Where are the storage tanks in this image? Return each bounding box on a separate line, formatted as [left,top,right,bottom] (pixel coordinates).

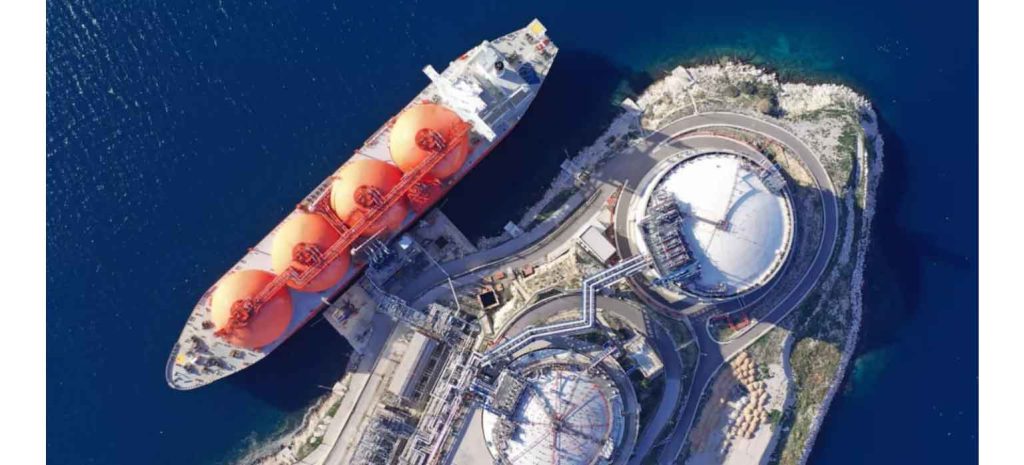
[631,147,796,304]
[466,343,626,465]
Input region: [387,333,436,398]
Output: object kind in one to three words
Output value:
shed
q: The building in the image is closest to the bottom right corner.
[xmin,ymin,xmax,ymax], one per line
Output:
[622,334,663,379]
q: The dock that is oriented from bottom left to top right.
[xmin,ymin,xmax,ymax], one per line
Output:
[322,207,478,362]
